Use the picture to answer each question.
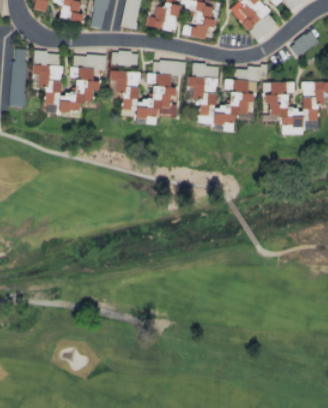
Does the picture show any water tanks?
No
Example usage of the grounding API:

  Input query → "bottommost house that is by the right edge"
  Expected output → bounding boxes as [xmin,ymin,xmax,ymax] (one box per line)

[262,80,322,127]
